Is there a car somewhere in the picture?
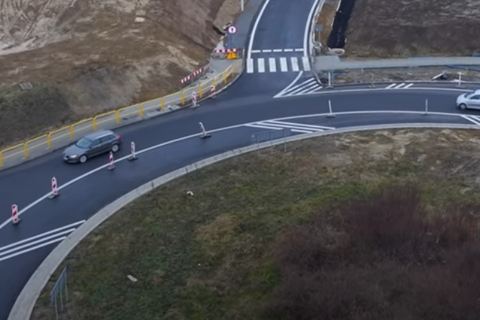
Yes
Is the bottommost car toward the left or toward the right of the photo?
left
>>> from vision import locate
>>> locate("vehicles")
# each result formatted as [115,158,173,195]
[455,88,480,110]
[61,127,124,163]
